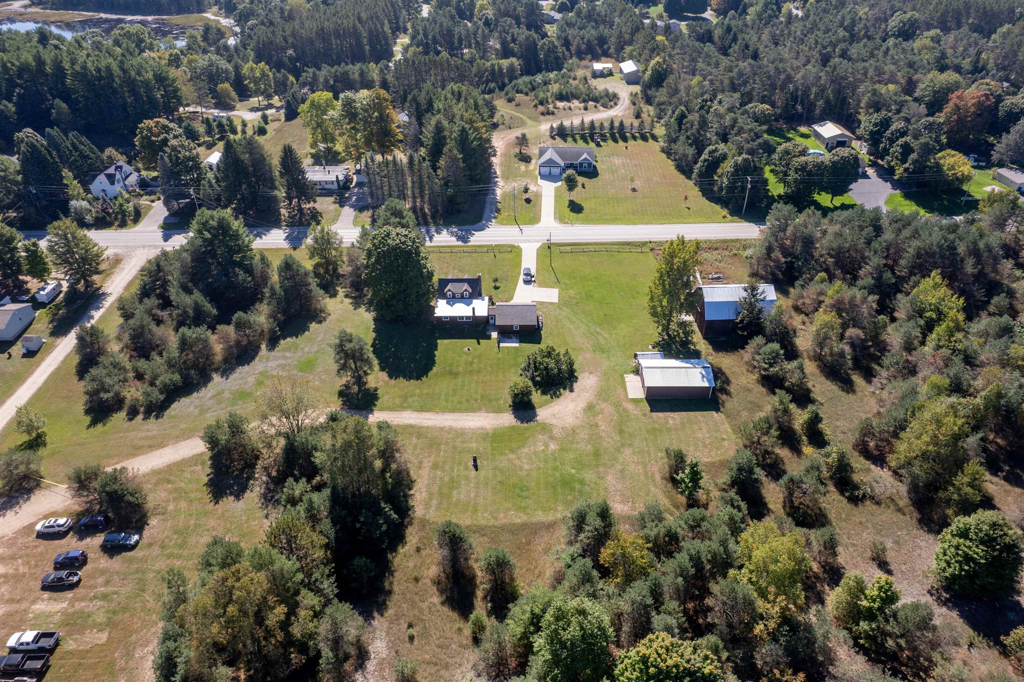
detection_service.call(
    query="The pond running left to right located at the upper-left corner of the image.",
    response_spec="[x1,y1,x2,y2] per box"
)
[5,17,219,51]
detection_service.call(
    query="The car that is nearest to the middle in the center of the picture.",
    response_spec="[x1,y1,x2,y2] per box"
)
[523,268,535,281]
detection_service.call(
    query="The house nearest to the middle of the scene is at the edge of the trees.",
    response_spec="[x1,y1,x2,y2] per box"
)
[434,267,537,334]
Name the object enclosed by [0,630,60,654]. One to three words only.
truck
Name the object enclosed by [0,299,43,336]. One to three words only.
house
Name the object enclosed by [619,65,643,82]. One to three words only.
barn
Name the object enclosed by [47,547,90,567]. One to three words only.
car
